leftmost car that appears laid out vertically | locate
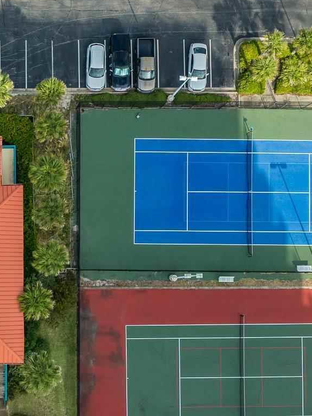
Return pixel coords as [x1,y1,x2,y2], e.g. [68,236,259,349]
[85,43,108,91]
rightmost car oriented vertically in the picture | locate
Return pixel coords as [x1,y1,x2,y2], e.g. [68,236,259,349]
[187,43,209,92]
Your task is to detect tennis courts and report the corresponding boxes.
[82,288,312,416]
[82,107,312,281]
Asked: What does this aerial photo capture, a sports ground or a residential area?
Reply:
sports ground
